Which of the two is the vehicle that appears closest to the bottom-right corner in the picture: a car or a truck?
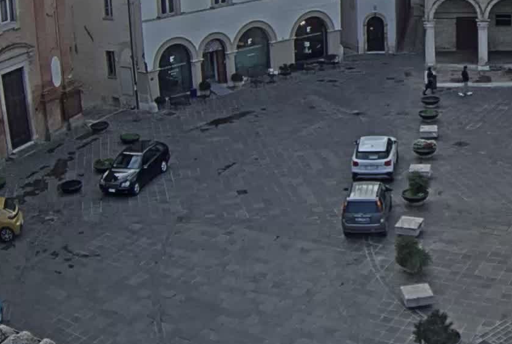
car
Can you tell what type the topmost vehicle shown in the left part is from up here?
car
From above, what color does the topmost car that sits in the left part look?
black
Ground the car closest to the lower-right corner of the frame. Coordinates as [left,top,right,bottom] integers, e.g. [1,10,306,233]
[350,174,399,229]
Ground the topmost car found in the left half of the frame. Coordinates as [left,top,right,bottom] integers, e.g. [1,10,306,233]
[100,136,170,189]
